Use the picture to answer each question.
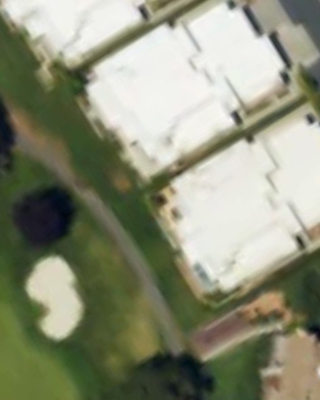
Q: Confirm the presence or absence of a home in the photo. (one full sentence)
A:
Yes, the photo shows a home.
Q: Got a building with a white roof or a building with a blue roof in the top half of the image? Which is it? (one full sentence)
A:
What appears in the top half of the image is a building with a white roof.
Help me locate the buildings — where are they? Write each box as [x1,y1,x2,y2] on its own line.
[172,106,320,288]
[86,0,291,180]
[265,337,320,400]
[2,0,153,62]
